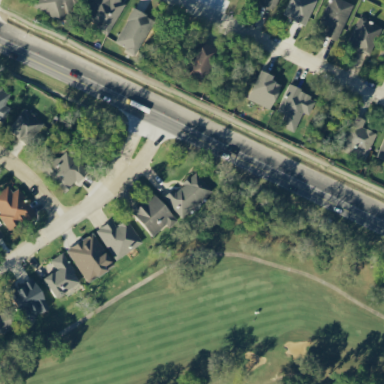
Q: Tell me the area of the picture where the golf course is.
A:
bottom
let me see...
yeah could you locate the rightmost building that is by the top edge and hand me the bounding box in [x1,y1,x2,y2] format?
[354,14,384,58]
